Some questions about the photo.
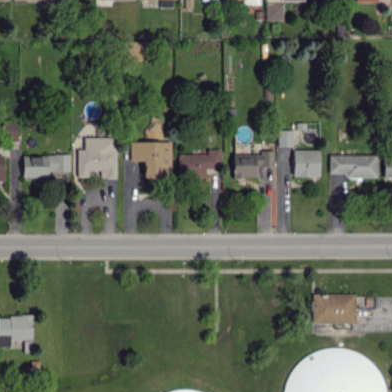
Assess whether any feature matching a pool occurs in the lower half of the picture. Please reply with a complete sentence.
No, I can find no pool in the lower half of the picture.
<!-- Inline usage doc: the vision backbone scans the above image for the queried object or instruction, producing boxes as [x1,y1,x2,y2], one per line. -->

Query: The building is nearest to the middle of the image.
[178,150,222,179]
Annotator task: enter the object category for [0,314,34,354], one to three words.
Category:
house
